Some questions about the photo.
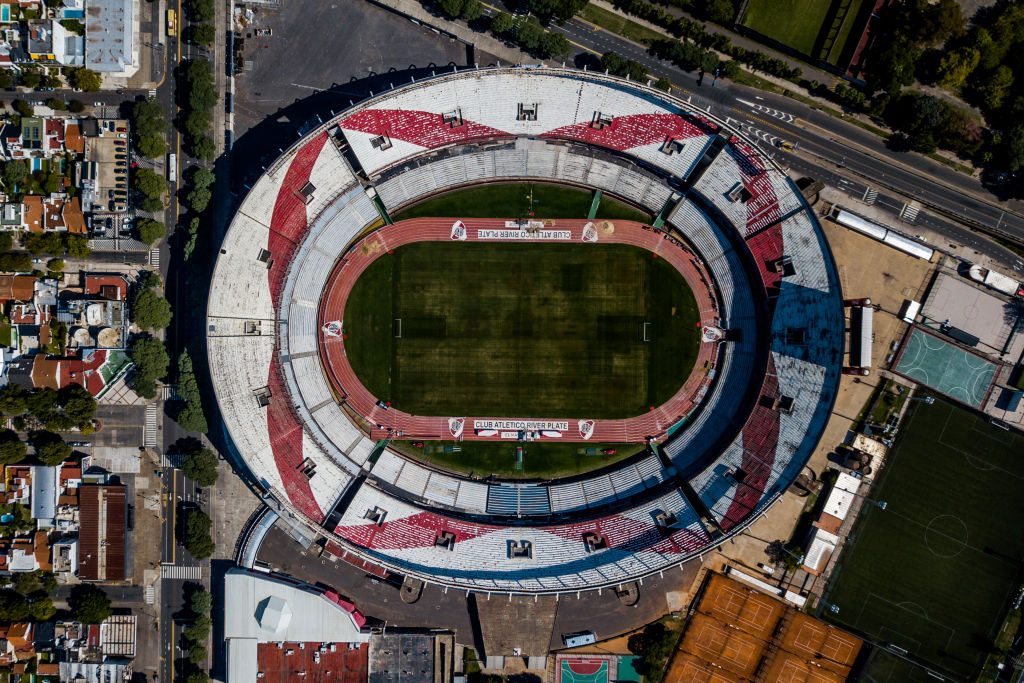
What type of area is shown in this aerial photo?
sports ground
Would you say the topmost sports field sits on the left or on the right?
right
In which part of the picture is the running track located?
center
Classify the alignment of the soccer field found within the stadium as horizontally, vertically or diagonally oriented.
horizontally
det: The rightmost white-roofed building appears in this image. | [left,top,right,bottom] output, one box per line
[976,271,1018,295]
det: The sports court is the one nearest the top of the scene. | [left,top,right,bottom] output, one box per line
[923,274,1013,348]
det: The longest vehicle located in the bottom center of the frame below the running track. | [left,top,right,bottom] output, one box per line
[566,634,595,647]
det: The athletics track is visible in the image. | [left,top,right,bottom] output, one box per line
[322,219,723,441]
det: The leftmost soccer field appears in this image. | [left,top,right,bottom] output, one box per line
[345,243,699,417]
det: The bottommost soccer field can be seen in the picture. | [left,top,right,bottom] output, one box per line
[846,645,947,683]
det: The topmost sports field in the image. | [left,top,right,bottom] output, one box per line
[744,0,835,54]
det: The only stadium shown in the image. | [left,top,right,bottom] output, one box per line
[205,56,846,603]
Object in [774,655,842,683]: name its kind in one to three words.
tennis court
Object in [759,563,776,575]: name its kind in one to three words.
vehicle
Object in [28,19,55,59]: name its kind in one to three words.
building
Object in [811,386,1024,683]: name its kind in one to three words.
soccer field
